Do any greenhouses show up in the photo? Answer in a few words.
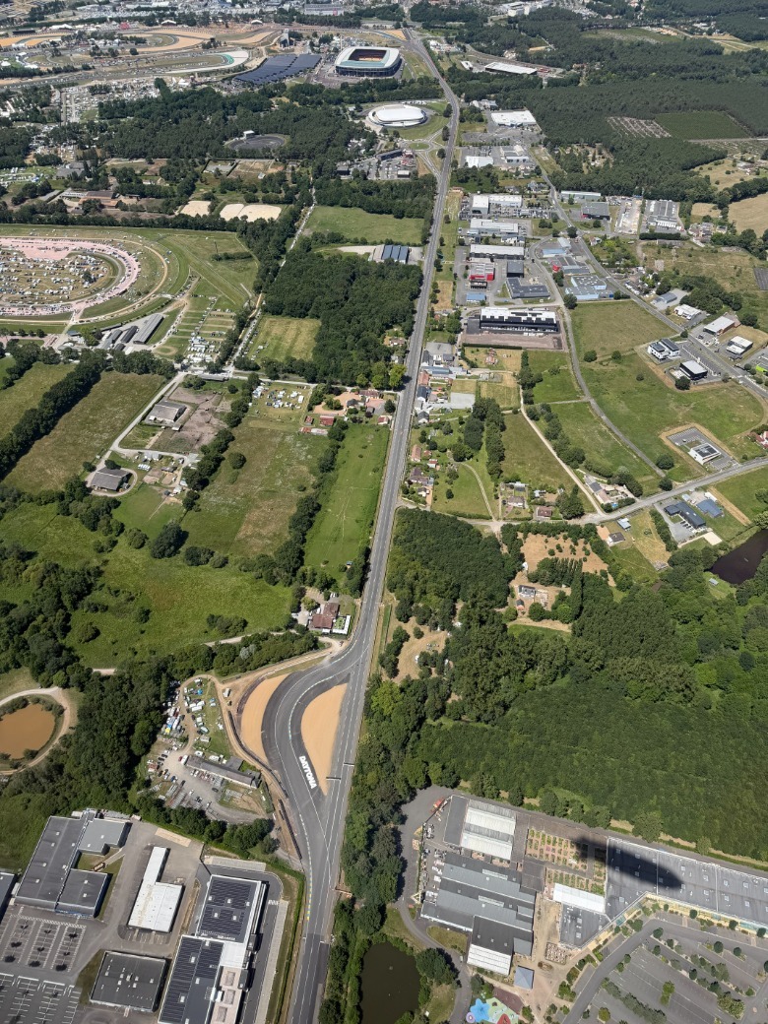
Yes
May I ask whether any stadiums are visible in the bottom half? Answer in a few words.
No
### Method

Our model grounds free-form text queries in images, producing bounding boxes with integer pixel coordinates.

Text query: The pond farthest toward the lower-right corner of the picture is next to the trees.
[359,943,418,1024]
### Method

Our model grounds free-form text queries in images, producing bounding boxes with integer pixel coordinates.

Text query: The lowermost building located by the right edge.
[603,835,768,934]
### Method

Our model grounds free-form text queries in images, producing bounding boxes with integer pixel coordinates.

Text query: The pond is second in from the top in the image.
[0,700,55,759]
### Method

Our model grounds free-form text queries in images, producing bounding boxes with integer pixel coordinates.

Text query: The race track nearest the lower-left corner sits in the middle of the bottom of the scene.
[276,643,356,868]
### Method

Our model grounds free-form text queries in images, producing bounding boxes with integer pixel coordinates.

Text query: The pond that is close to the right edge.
[708,527,768,585]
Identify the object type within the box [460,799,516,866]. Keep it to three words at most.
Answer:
greenhouse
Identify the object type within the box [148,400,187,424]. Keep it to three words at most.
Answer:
barn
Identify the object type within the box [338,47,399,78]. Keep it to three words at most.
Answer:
stadium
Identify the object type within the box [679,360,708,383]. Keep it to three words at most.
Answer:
building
